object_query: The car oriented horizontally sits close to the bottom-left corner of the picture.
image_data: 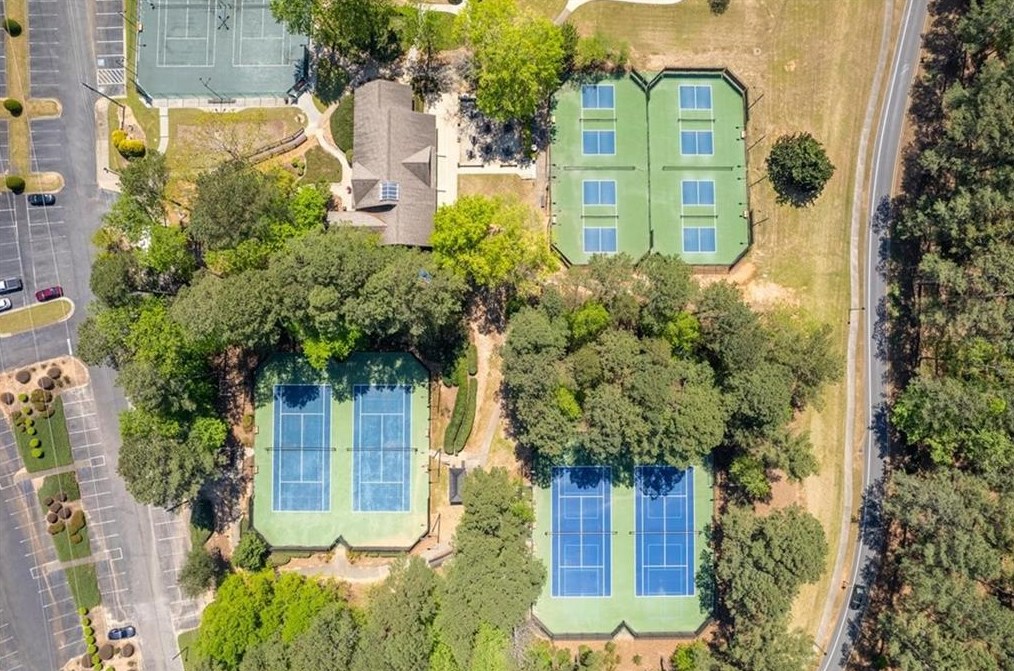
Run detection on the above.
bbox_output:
[106,626,134,640]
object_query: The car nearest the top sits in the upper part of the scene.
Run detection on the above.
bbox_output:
[26,192,53,205]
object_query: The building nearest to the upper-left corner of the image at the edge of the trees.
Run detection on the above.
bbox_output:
[326,80,438,246]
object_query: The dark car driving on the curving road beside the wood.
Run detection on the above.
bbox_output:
[852,586,868,612]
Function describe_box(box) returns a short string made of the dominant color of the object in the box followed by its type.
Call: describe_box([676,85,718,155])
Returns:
blue sports court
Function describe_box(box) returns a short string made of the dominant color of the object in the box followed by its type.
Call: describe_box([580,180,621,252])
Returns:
blue sports court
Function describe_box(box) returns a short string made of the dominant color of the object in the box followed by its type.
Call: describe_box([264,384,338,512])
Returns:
blue tennis court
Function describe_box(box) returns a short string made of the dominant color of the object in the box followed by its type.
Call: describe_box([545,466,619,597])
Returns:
blue tennis court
